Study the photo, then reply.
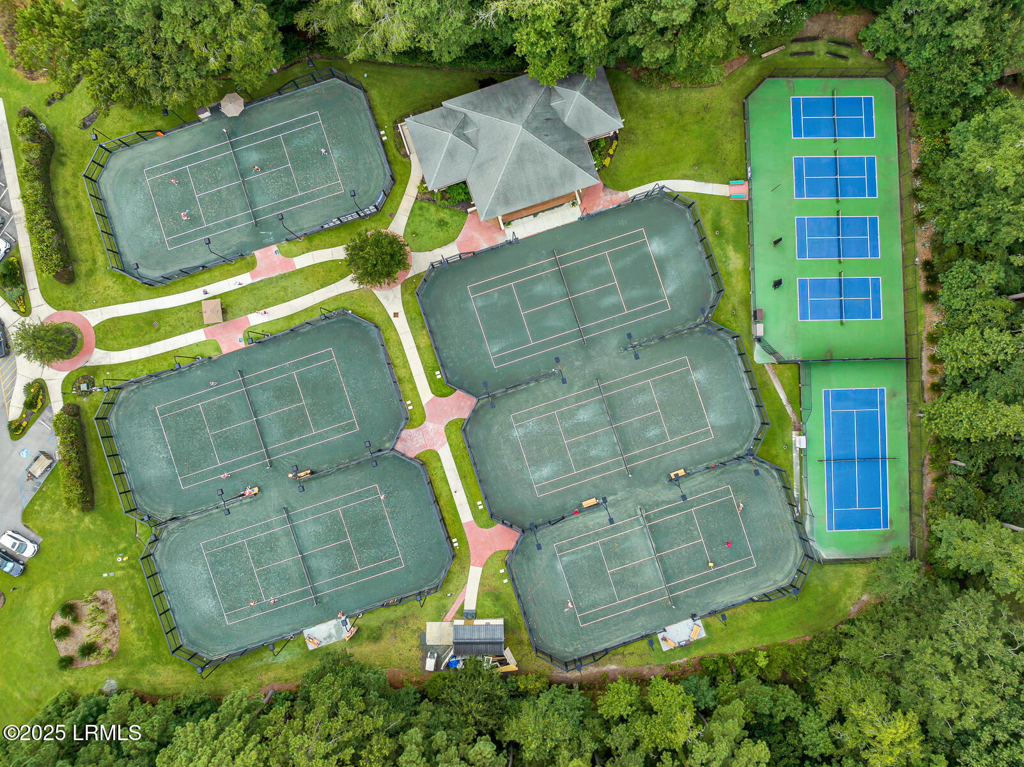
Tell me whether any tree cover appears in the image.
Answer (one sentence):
Yes, some tree cover is visible.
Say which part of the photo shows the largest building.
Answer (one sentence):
The largest building sits in the top section of the image.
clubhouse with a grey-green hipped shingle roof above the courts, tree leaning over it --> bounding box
[396,55,627,230]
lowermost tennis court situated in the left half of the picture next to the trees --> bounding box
[153,452,453,658]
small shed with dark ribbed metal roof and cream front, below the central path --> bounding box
[451,618,504,656]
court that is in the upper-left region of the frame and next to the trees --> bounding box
[98,79,392,284]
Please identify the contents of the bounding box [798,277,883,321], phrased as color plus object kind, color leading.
blue tennis court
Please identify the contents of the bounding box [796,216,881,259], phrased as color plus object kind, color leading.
blue tennis court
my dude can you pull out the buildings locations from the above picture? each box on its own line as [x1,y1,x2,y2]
[396,55,627,230]
[451,618,504,656]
